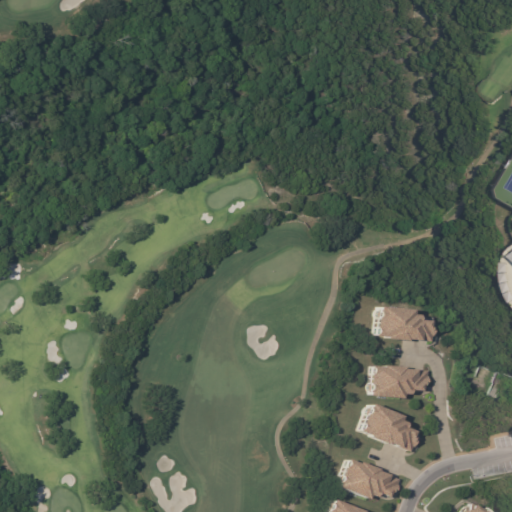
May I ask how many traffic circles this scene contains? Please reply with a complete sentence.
There are no traffic circles in this view.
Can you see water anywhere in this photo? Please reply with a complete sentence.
No, the picture contains no water.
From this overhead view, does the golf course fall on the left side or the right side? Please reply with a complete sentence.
The golf course appears in the left half of the scene.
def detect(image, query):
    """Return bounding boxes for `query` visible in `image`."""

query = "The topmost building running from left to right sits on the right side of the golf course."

[372,307,438,342]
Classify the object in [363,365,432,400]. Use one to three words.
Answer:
house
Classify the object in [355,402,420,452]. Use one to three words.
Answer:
house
